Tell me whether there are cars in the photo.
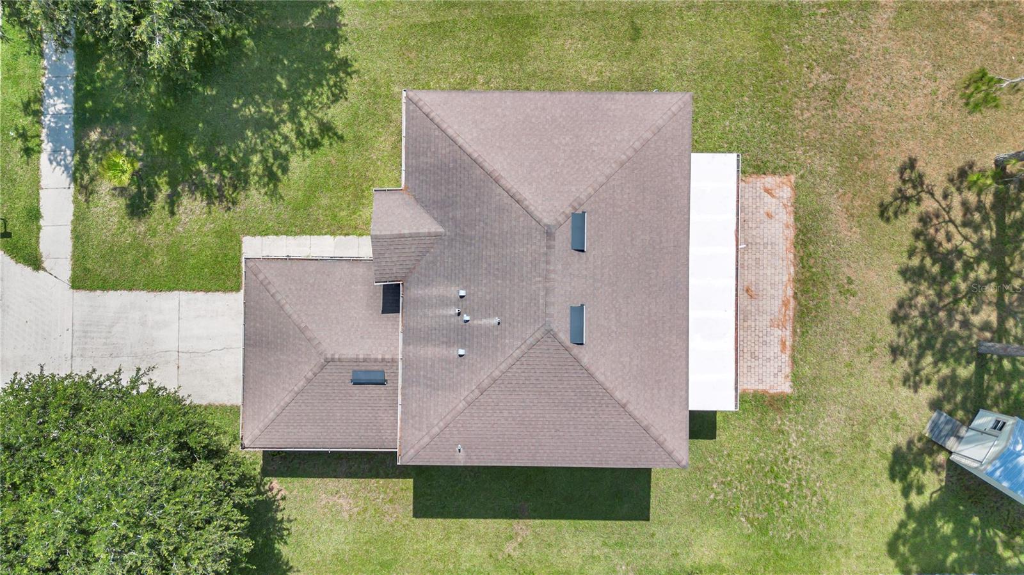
No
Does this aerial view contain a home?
Yes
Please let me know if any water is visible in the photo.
No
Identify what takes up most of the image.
grass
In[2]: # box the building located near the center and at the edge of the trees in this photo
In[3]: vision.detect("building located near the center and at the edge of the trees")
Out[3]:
[241,88,746,468]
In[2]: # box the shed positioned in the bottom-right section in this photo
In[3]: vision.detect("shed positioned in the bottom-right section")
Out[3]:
[950,408,1024,504]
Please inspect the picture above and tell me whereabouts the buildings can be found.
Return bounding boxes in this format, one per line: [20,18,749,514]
[950,408,1024,504]
[241,88,746,468]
